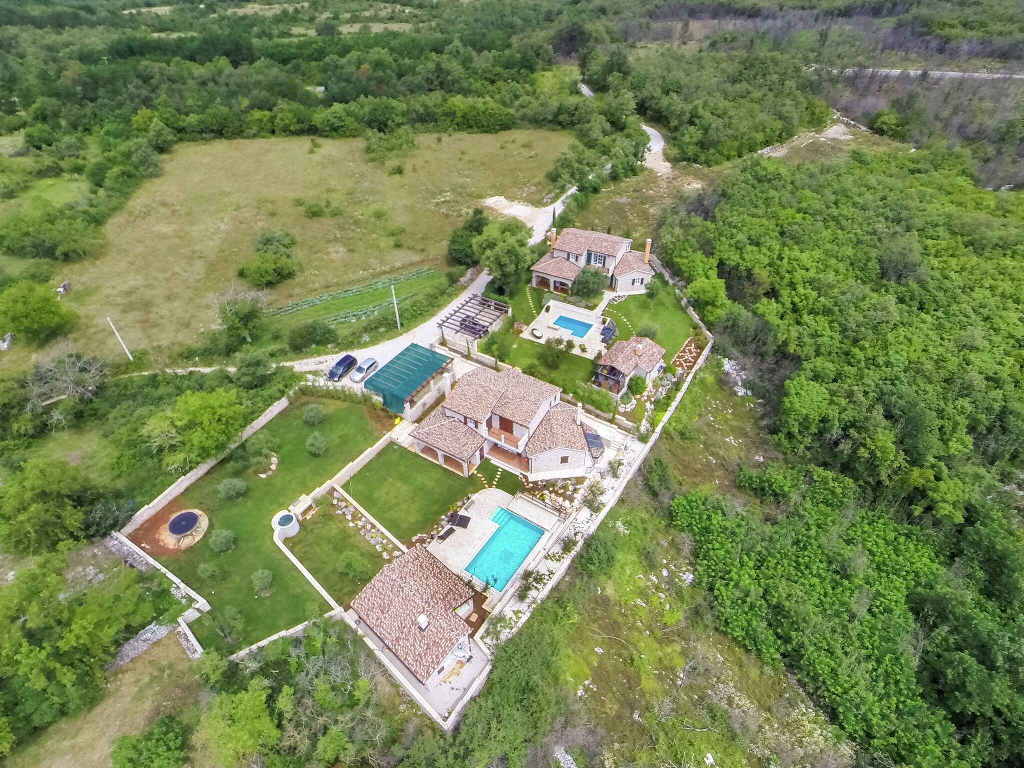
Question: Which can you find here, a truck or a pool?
pool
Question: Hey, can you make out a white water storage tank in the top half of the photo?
No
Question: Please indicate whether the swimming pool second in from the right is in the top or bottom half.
bottom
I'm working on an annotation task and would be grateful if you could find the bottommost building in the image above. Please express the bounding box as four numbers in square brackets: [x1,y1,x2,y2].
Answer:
[351,544,475,689]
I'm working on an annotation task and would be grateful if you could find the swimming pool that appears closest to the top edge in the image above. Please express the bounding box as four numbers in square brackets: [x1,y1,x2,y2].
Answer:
[550,313,596,340]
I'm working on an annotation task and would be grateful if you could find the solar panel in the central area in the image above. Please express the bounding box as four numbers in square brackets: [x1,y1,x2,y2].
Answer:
[582,427,603,445]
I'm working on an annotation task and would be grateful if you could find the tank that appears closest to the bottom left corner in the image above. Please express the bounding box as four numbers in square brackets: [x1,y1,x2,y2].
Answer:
[272,510,298,538]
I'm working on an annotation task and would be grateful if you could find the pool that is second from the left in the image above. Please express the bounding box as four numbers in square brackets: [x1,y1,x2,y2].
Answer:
[459,502,547,596]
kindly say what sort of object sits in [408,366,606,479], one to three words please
house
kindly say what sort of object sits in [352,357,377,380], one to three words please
car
